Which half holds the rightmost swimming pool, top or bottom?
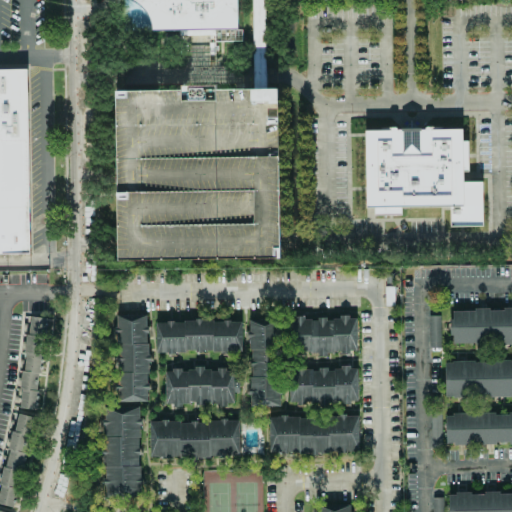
bottom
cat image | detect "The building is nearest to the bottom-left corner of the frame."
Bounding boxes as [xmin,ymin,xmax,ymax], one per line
[0,410,32,508]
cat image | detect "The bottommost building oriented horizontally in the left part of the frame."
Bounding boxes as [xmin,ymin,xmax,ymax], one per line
[150,418,241,460]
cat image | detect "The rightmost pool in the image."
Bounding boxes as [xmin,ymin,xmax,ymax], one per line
[241,425,264,452]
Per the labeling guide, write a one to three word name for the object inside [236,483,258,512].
tennis court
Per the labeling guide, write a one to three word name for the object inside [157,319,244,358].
building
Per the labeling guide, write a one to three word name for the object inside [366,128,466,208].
building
